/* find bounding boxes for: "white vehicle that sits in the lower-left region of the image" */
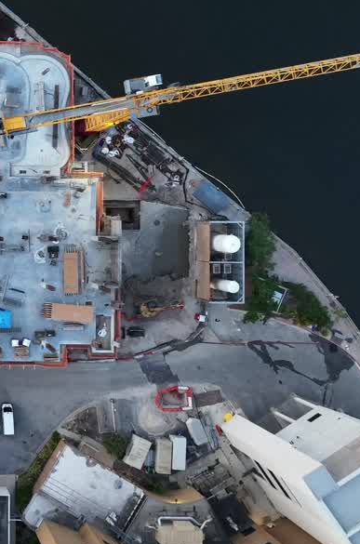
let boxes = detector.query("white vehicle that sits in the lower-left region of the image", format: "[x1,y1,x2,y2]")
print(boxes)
[1,405,16,438]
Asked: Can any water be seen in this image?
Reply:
Yes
